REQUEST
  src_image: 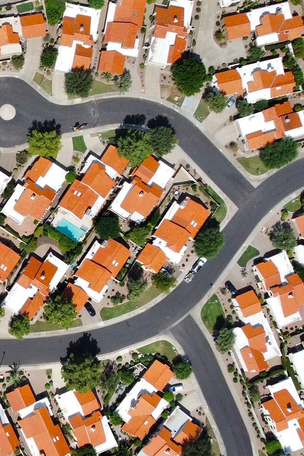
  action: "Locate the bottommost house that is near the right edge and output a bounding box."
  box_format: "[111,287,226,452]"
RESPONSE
[257,378,304,455]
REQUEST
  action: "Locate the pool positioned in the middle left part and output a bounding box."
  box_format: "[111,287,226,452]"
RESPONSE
[56,217,85,243]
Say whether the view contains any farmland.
No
